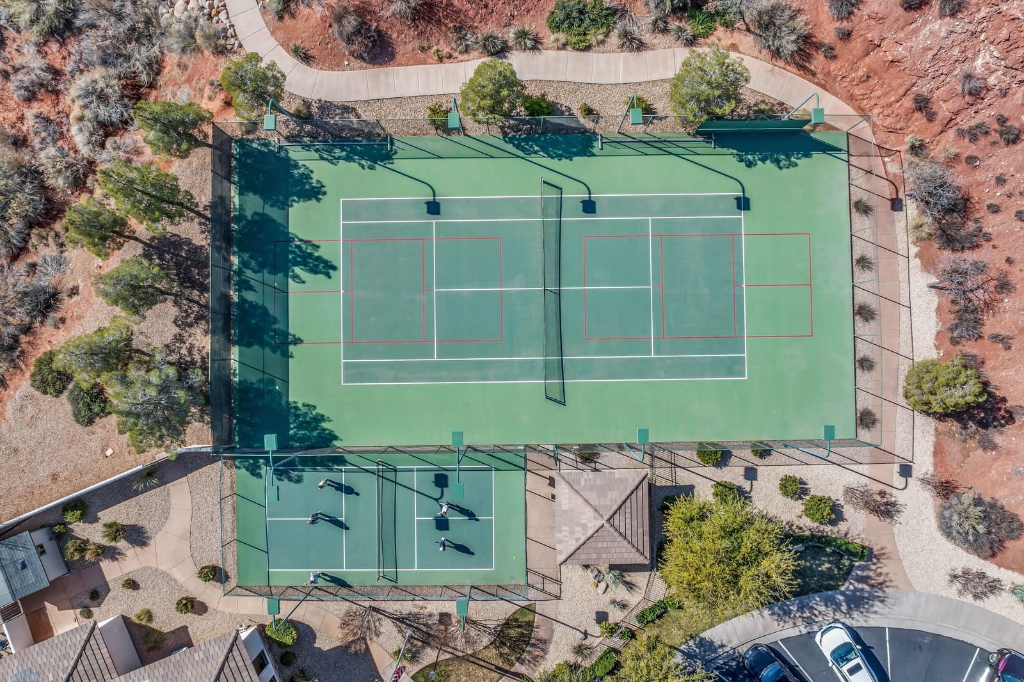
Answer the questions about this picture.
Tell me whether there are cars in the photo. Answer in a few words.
Yes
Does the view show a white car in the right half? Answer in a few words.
Yes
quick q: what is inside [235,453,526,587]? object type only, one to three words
sports court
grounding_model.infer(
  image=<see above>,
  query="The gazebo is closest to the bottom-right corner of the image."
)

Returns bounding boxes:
[554,466,653,568]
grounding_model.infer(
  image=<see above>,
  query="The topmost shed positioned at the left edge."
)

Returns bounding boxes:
[0,527,70,608]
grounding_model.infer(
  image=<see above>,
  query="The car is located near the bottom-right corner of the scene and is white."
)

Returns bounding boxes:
[815,622,876,682]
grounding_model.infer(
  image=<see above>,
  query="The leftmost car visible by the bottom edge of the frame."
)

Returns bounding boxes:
[742,637,809,682]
